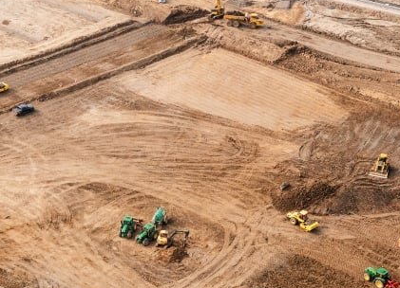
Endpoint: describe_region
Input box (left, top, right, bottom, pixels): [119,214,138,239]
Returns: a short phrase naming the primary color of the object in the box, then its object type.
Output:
green work vehicle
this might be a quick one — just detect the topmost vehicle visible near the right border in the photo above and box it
[368,154,390,181]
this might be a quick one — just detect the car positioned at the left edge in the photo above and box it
[11,104,35,116]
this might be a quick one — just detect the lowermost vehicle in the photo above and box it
[359,266,390,288]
